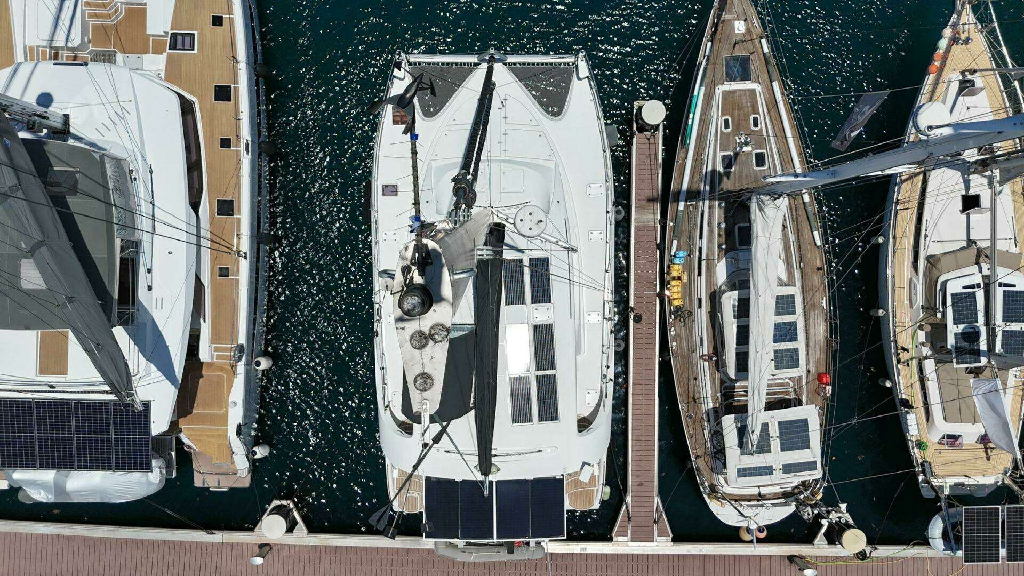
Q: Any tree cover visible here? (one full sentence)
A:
No, no tree cover is visible.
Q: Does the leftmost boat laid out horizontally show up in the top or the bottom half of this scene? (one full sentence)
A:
It is in the bottom half that the leftmost boat laid out horizontally appears.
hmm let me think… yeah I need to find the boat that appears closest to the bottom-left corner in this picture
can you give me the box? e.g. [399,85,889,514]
[0,447,166,505]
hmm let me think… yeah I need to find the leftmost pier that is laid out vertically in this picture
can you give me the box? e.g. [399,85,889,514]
[609,100,673,546]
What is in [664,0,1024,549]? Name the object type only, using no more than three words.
boat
